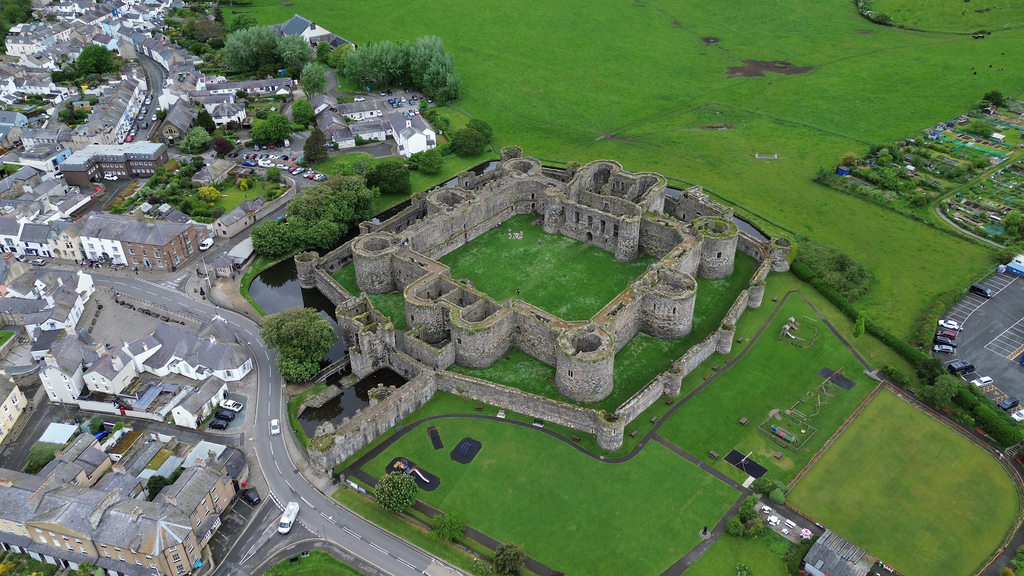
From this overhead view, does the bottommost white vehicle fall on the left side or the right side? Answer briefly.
left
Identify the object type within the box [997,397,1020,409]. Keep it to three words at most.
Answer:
vehicle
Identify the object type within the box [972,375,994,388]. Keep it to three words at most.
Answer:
vehicle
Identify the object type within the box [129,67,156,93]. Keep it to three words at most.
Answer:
house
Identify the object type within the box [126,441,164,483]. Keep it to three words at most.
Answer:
shed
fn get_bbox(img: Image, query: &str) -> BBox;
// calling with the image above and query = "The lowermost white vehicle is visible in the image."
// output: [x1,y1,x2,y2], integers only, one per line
[277,497,301,533]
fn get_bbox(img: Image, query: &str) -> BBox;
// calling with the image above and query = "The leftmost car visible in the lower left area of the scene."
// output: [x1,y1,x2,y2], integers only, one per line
[94,425,115,441]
